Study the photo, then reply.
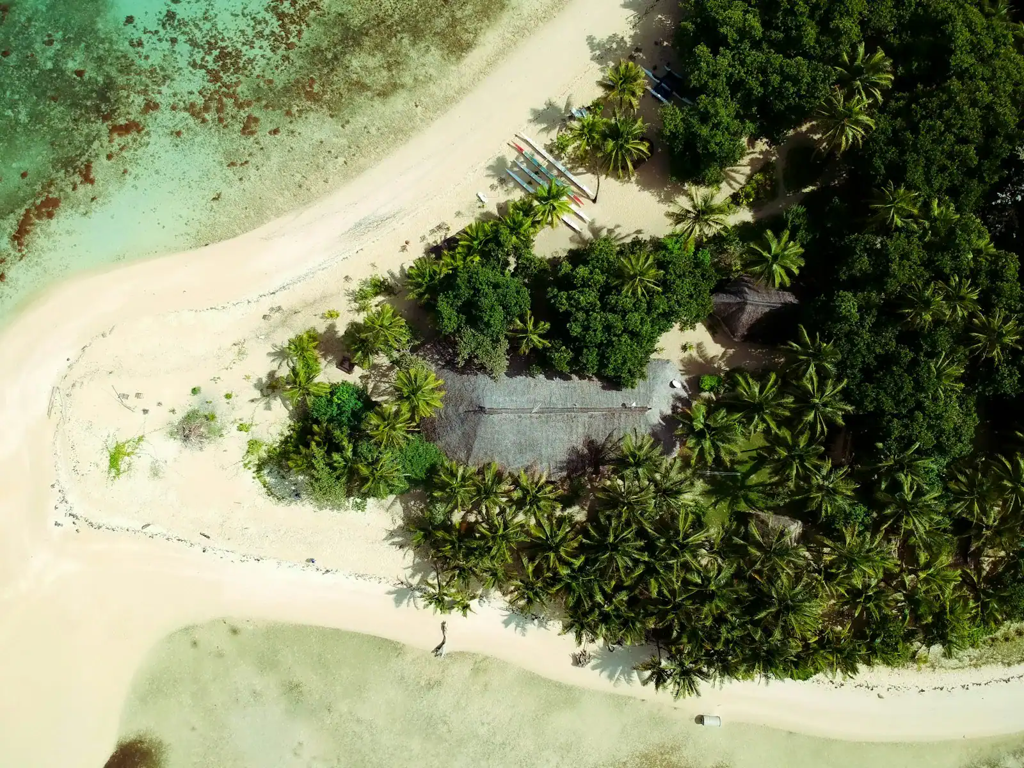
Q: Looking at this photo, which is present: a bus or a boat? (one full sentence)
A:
I can see a boat in this picture.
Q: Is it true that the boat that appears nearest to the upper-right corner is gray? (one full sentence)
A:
No, the boat that appears nearest to the upper-right corner is black.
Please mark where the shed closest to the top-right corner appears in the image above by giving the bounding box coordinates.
[711,273,804,345]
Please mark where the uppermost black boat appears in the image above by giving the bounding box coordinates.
[642,54,694,108]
